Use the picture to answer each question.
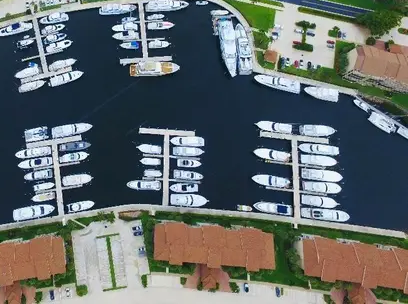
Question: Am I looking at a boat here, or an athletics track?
boat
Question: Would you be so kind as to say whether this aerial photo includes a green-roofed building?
No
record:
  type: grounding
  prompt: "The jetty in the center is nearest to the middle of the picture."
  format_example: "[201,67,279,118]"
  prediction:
[139,127,200,206]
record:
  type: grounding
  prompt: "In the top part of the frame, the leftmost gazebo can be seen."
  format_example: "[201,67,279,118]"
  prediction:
[263,51,277,63]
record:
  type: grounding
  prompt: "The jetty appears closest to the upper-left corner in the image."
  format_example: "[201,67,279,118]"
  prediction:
[19,18,73,84]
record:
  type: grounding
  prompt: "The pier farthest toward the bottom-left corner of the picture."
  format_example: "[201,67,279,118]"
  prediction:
[26,134,83,216]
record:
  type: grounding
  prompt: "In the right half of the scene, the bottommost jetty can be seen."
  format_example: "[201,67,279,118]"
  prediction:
[260,131,329,217]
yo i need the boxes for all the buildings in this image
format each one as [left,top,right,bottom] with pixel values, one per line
[342,43,408,94]
[152,221,276,290]
[294,233,408,304]
[0,234,67,304]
